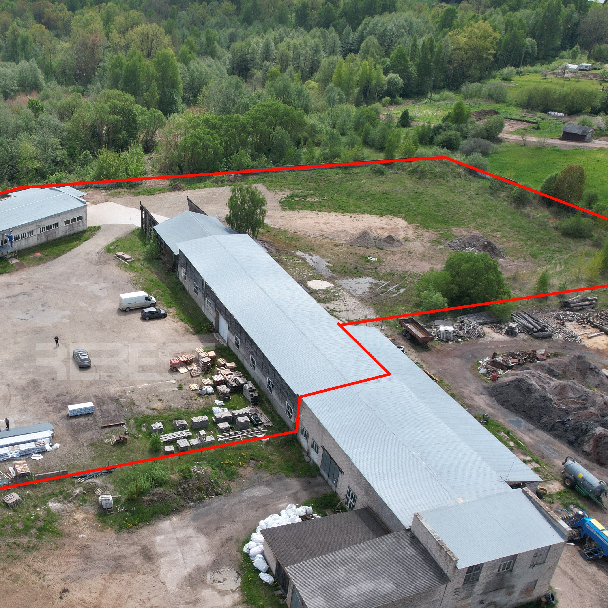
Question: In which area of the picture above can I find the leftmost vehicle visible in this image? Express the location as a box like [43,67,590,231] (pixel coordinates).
[71,348,93,370]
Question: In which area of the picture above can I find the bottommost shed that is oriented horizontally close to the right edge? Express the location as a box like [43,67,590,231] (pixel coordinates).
[561,123,595,140]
